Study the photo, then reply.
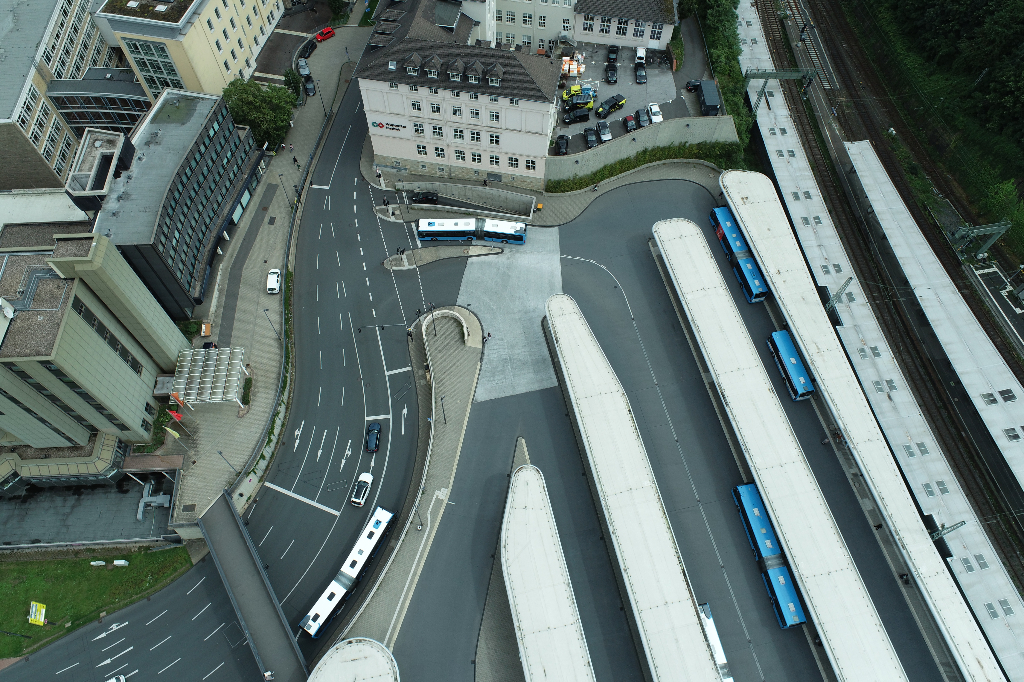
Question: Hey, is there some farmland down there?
No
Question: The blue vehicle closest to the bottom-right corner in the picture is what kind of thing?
bus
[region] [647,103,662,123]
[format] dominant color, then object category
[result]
white car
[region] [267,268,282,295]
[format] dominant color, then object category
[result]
white vehicle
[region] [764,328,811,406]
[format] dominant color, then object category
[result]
blue bus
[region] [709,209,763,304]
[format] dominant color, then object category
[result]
blue bus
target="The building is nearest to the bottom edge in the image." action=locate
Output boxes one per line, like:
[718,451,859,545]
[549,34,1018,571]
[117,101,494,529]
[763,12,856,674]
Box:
[0,468,182,555]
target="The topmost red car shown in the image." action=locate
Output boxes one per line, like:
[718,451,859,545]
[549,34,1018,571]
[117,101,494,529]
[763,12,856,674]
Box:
[315,25,336,41]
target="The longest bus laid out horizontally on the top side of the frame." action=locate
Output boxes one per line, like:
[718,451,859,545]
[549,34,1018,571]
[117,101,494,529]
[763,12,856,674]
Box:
[416,220,525,245]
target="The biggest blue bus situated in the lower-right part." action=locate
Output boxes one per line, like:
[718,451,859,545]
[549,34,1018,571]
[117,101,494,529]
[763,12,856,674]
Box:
[730,481,801,625]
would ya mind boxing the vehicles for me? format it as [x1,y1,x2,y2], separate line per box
[196,337,225,352]
[634,46,647,65]
[583,127,598,149]
[606,64,618,83]
[267,268,282,295]
[300,505,395,642]
[416,220,525,245]
[635,64,647,83]
[563,108,590,125]
[412,191,439,202]
[608,47,619,63]
[564,82,593,100]
[598,96,625,116]
[635,108,649,128]
[647,103,662,123]
[730,481,801,625]
[596,121,612,143]
[764,328,811,406]
[297,58,311,76]
[702,76,722,118]
[366,422,381,454]
[709,209,763,304]
[315,25,336,41]
[683,77,705,92]
[298,39,318,57]
[566,92,593,111]
[349,473,372,507]
[302,76,316,96]
[622,114,636,133]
